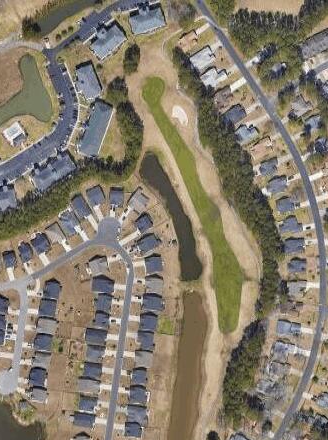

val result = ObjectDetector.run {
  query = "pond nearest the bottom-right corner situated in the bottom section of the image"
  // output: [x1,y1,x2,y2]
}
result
[166,291,207,440]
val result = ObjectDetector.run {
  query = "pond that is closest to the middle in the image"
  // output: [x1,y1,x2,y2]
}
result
[141,153,203,282]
